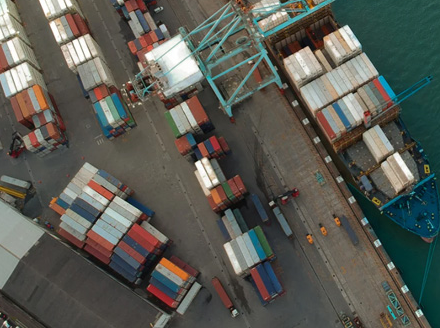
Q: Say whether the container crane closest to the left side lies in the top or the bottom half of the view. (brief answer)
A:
top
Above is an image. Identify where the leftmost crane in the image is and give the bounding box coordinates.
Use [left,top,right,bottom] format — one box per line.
[110,0,336,123]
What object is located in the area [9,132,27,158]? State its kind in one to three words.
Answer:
work vehicle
